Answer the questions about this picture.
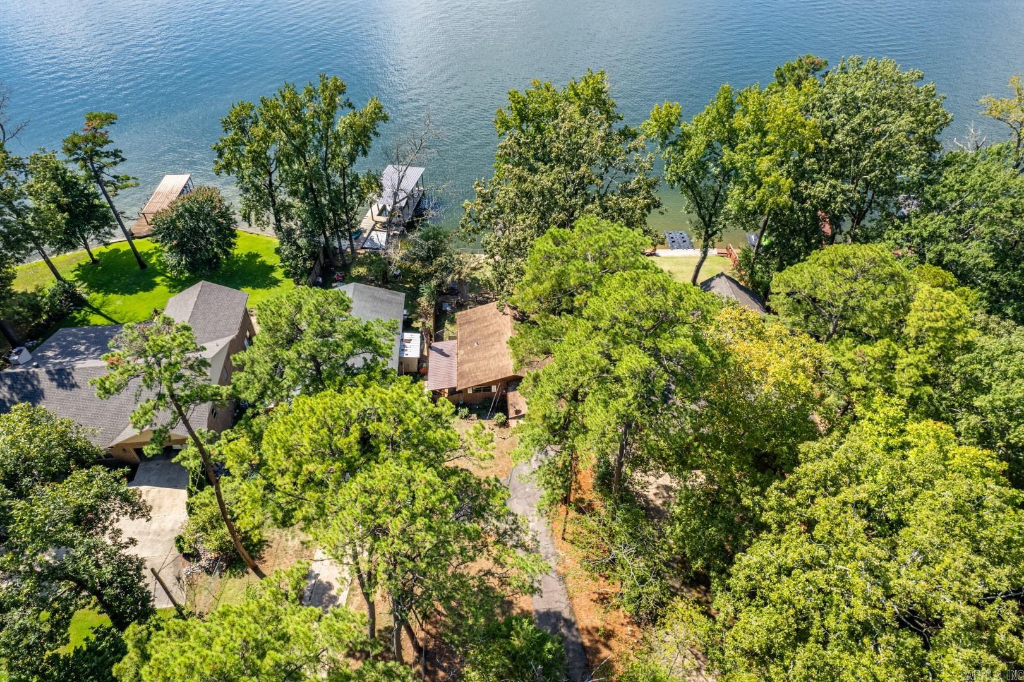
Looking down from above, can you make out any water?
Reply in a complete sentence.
Yes, there's water in this view.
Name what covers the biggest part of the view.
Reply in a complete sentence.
What you mostly see from above here is trees.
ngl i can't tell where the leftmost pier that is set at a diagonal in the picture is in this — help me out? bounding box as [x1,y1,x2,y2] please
[131,175,198,236]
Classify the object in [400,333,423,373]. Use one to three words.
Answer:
shed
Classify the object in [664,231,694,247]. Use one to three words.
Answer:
pier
